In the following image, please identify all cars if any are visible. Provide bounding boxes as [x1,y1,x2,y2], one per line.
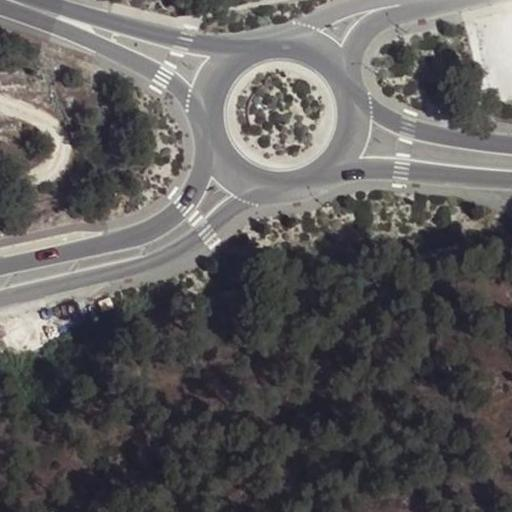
[181,185,196,205]
[342,169,364,180]
[36,248,59,260]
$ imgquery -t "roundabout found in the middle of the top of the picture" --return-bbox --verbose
[194,28,366,200]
